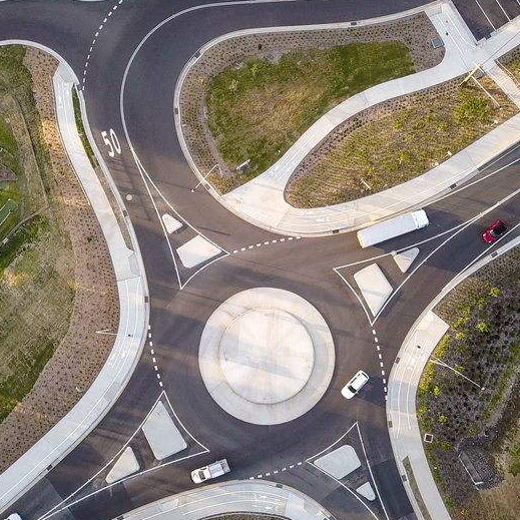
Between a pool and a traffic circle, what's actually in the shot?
traffic circle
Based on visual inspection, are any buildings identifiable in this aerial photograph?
No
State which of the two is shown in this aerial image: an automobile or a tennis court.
automobile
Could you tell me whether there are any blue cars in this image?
No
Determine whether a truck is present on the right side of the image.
Yes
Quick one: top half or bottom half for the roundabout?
bottom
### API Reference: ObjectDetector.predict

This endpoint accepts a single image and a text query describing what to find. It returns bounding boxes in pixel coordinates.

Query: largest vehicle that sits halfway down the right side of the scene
[354,209,426,251]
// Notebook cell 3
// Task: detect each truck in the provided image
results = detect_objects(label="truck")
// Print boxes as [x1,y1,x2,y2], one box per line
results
[354,209,426,251]
[189,458,231,484]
